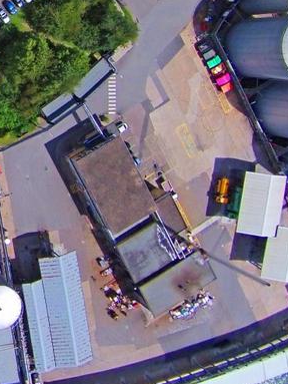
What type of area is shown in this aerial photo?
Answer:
industrial area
